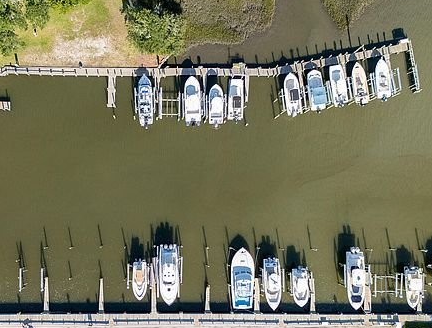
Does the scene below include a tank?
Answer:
No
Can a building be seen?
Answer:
No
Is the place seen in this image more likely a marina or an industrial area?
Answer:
marina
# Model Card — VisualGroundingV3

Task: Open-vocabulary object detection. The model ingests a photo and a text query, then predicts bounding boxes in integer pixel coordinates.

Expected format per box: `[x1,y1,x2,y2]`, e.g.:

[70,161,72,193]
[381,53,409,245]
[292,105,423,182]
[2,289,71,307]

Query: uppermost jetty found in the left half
[0,64,269,80]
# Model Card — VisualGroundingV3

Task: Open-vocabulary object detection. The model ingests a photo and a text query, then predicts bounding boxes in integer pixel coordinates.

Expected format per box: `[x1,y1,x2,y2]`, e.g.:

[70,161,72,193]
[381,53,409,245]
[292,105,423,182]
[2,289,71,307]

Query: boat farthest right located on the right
[403,264,425,309]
